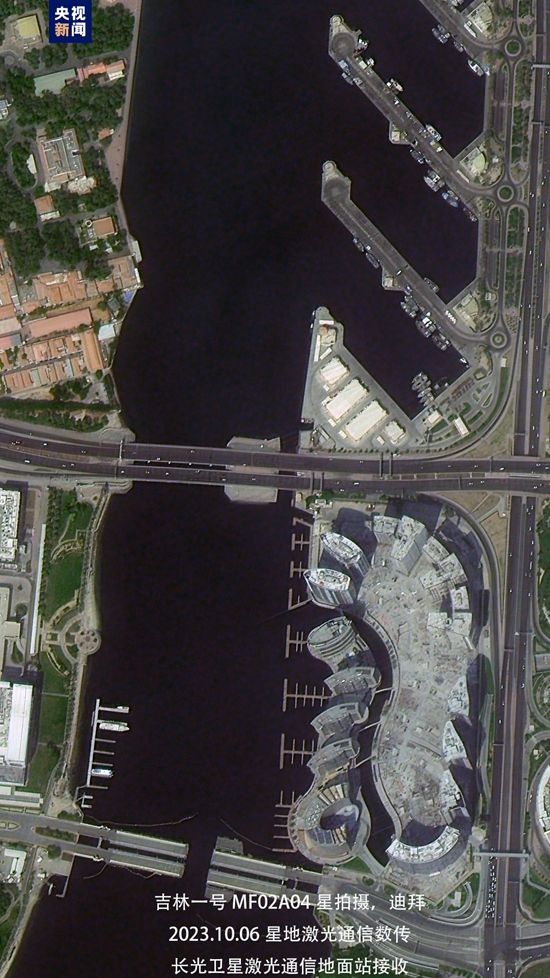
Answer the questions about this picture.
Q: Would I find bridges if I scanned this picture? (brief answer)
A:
Yes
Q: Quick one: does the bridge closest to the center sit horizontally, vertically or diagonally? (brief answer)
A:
horizontally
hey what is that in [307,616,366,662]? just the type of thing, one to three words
building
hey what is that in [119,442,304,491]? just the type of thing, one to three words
bridge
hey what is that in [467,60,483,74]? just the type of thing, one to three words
boat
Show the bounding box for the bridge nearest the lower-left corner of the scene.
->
[79,823,189,878]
